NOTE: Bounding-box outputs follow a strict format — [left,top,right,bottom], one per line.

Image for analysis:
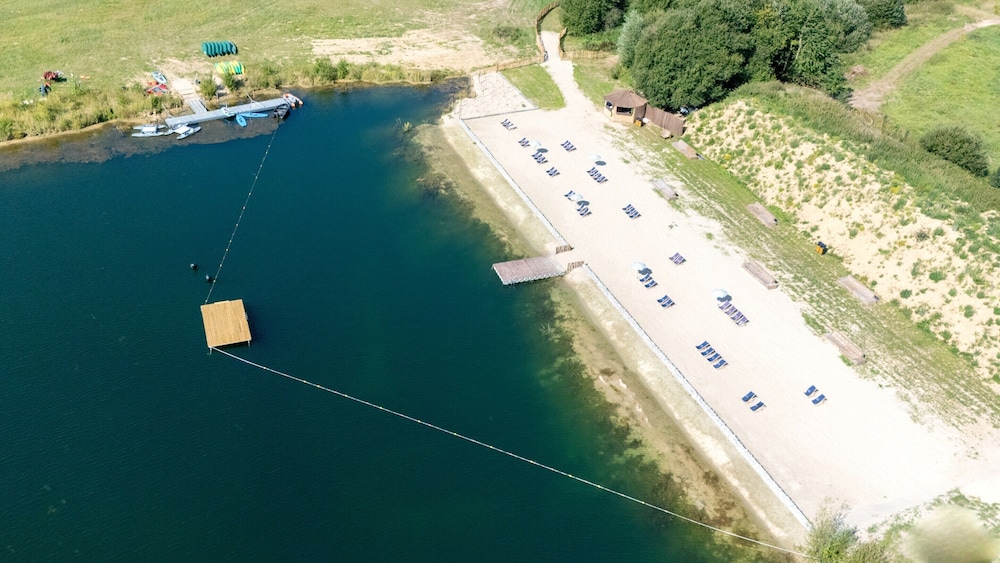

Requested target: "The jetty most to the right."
[491,255,570,287]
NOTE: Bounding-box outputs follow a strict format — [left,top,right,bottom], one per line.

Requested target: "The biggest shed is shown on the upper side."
[606,90,647,121]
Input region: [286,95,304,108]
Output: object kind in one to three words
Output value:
boat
